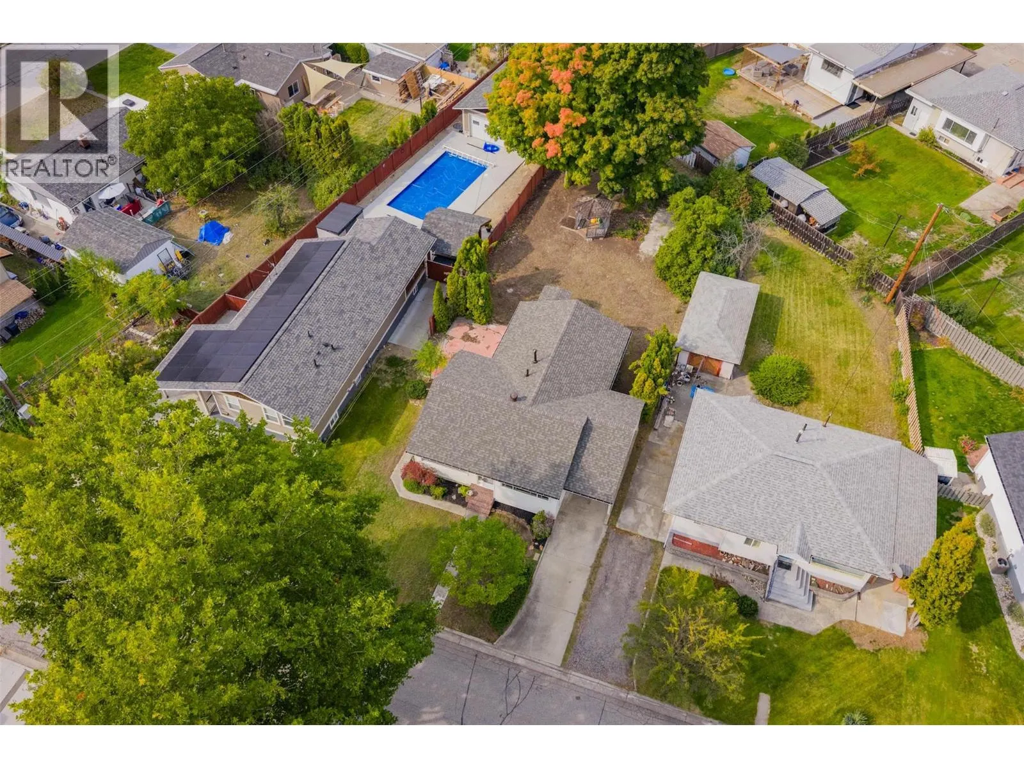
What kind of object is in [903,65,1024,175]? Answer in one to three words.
house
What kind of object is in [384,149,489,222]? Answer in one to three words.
swimming pool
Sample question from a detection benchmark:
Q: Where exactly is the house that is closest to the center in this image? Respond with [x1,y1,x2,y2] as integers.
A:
[405,287,643,522]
